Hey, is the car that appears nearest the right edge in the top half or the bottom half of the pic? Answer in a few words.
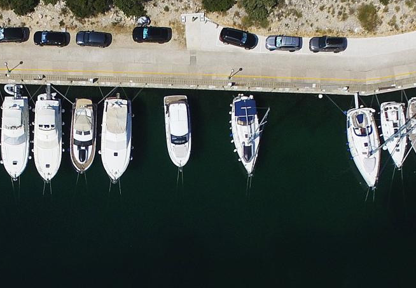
top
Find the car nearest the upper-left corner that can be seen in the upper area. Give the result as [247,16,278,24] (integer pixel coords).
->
[0,24,26,45]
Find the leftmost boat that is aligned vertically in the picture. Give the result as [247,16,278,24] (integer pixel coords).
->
[0,81,33,189]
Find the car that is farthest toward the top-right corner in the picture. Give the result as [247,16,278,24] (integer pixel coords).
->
[309,35,347,55]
